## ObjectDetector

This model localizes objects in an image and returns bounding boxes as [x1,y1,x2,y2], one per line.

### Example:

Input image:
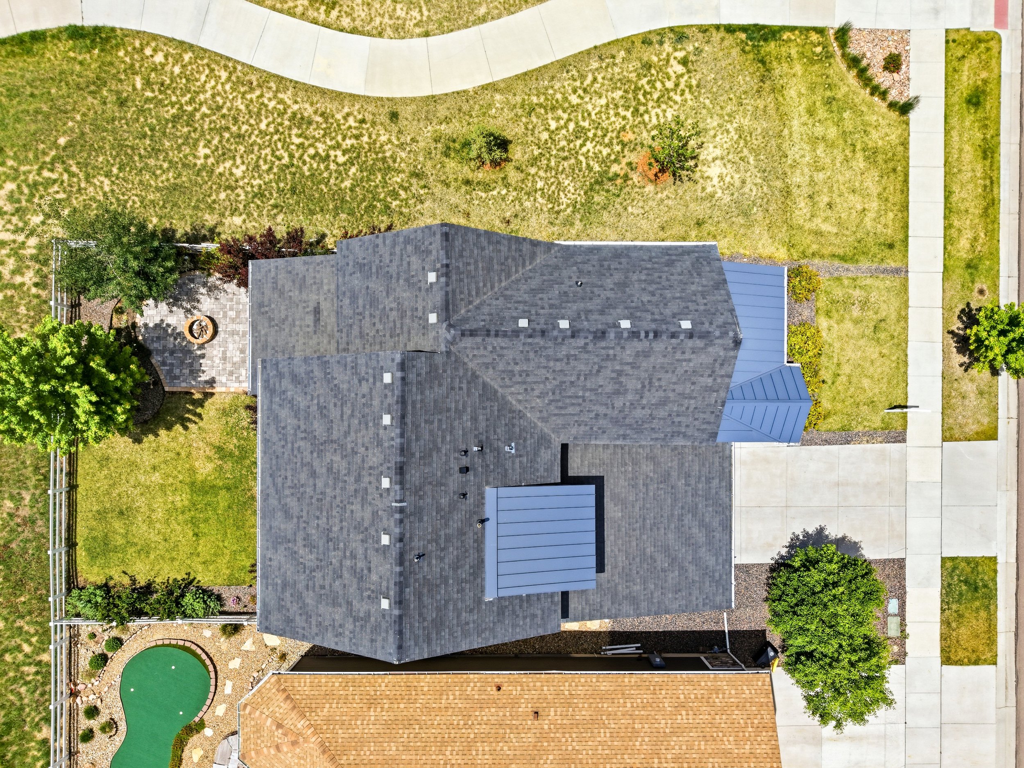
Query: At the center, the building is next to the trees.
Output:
[246,223,812,665]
